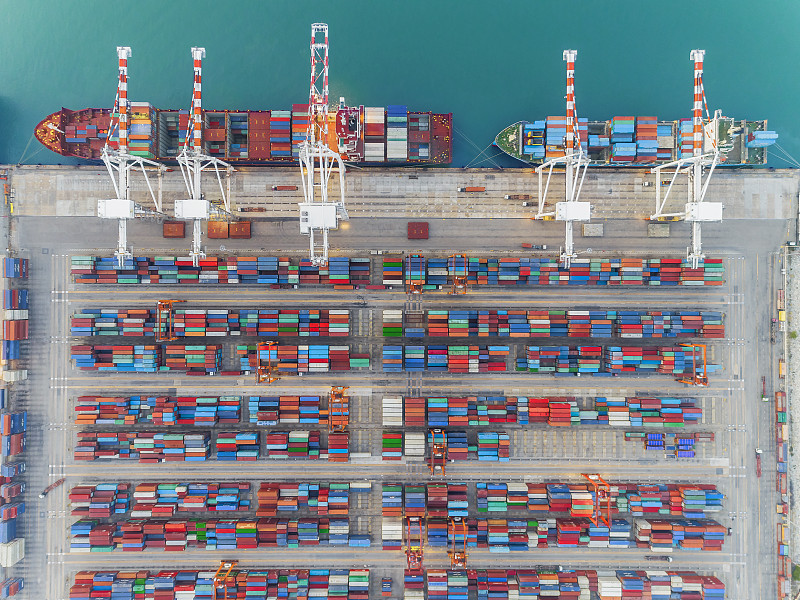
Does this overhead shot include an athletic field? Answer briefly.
No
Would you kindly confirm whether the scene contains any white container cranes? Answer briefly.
Yes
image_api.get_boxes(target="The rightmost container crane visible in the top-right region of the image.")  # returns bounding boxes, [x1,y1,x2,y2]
[642,46,722,267]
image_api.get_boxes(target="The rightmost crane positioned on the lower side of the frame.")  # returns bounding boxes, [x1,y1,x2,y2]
[673,341,707,388]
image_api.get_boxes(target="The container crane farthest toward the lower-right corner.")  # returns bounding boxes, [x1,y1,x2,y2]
[581,474,609,525]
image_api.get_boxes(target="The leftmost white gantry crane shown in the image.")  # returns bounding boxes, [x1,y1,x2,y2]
[98,46,175,267]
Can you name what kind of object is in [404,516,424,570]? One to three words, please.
container crane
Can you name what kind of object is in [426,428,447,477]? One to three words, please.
container crane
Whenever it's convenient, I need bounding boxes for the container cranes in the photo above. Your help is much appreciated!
[404,516,424,570]
[447,251,468,294]
[426,428,447,477]
[256,341,282,385]
[298,23,352,262]
[528,46,591,267]
[329,386,351,434]
[446,516,468,570]
[404,252,424,298]
[673,341,707,388]
[98,46,175,267]
[174,46,242,267]
[581,474,609,525]
[642,46,722,267]
[157,299,188,342]
[213,562,241,600]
